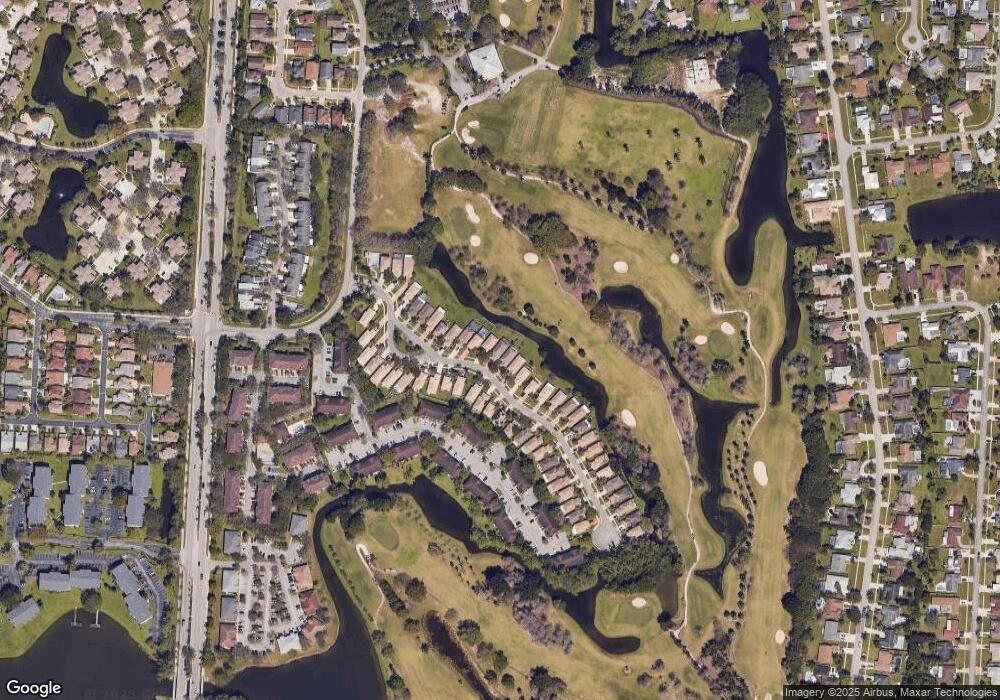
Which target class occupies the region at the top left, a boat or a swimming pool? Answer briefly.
swimming pool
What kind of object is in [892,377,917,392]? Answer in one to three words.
house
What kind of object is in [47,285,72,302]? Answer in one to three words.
swimming pool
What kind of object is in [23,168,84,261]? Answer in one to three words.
pond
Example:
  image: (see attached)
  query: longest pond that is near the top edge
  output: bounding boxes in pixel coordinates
[32,33,109,139]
